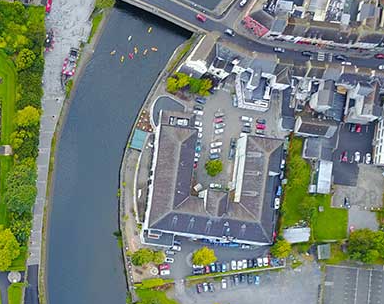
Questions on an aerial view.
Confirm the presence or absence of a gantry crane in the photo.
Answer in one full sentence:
No, there is no gantry crane in the image.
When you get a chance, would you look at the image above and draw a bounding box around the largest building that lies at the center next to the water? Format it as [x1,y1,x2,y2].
[139,111,289,247]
